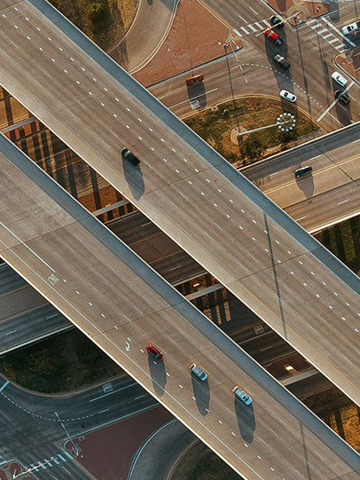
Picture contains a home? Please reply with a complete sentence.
No, I can see no home in this picture.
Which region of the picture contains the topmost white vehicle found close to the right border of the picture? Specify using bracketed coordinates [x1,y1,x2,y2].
[344,20,360,32]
